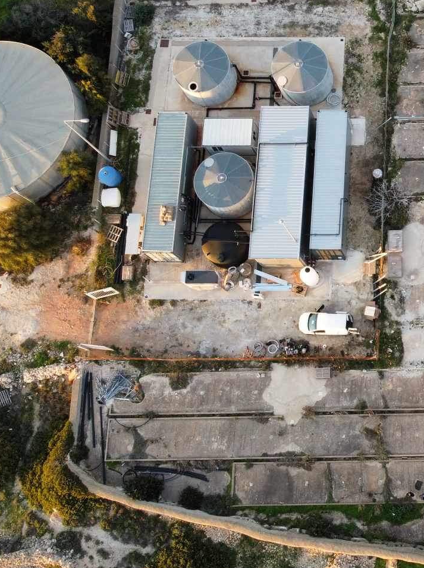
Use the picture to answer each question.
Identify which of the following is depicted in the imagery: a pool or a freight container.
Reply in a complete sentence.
This aerial view contains a freight container.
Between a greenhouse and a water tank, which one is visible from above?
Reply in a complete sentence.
It is a water tank that can be seen here.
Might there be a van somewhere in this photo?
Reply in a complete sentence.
Yes, a van appears in the view.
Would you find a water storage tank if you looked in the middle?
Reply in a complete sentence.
Yes, you'll find a water storage tank in the middle.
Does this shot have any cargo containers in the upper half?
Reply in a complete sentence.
Yes, the scene does show a cargo container in the upper half.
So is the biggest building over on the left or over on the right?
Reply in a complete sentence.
The biggest building appears in the right half of the scene.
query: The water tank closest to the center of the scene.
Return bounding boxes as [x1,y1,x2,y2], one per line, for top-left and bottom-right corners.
[202,222,251,272]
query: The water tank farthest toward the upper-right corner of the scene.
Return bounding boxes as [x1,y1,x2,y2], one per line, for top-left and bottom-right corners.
[271,39,333,105]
